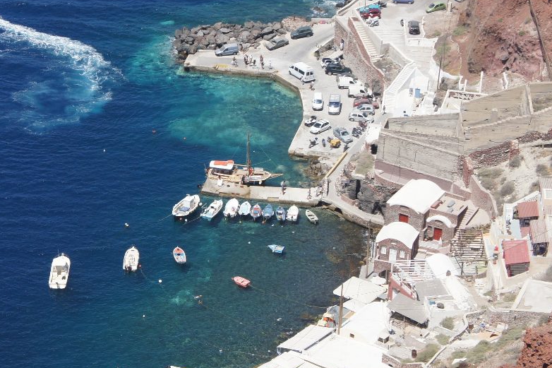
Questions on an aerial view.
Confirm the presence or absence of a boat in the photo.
Yes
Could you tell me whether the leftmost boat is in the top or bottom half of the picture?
bottom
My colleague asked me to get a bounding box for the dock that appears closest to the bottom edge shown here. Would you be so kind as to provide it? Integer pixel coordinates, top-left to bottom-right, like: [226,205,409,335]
[201,178,318,210]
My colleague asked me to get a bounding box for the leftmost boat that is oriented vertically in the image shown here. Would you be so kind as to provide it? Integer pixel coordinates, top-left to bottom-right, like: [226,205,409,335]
[47,254,68,294]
